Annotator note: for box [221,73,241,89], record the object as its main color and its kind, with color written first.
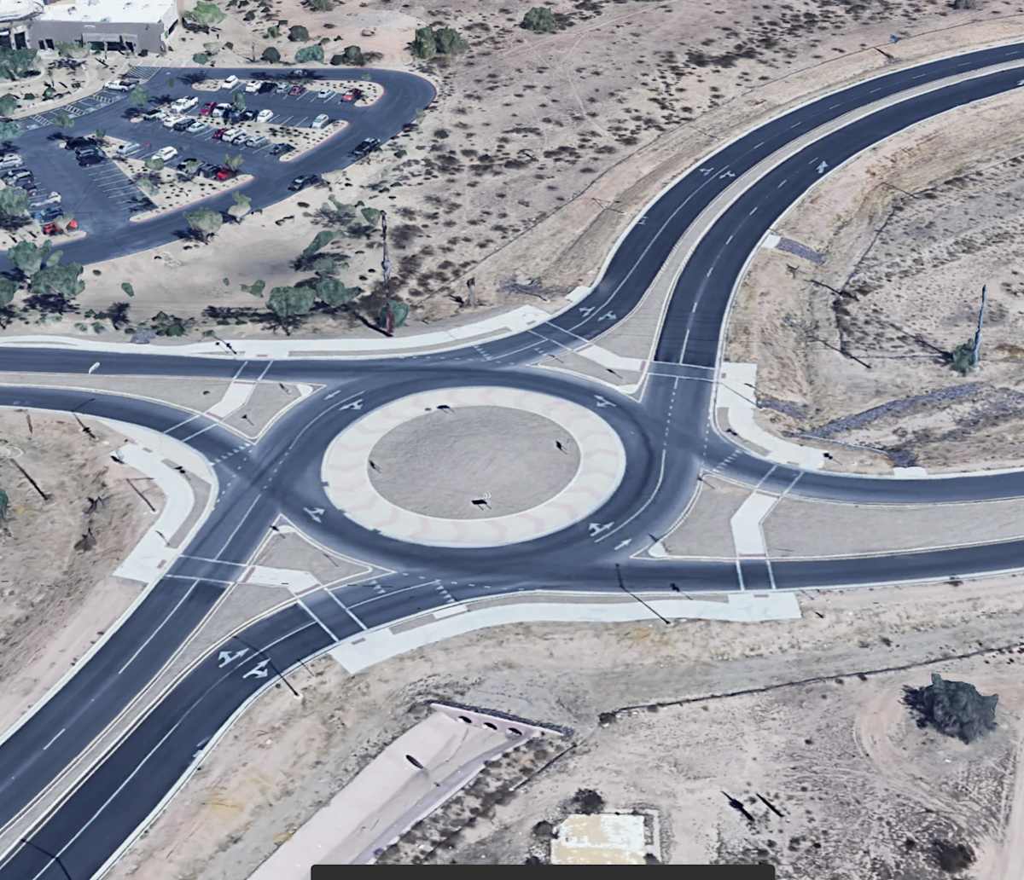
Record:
white car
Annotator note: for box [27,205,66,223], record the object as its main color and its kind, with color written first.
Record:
blue vehicle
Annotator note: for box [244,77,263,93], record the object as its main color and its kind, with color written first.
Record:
white car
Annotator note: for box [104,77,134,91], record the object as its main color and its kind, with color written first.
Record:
white vehicle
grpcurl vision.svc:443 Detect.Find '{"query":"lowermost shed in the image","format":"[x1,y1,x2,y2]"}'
[550,815,649,880]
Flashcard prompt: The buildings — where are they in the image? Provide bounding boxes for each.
[550,815,649,880]
[24,0,188,57]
